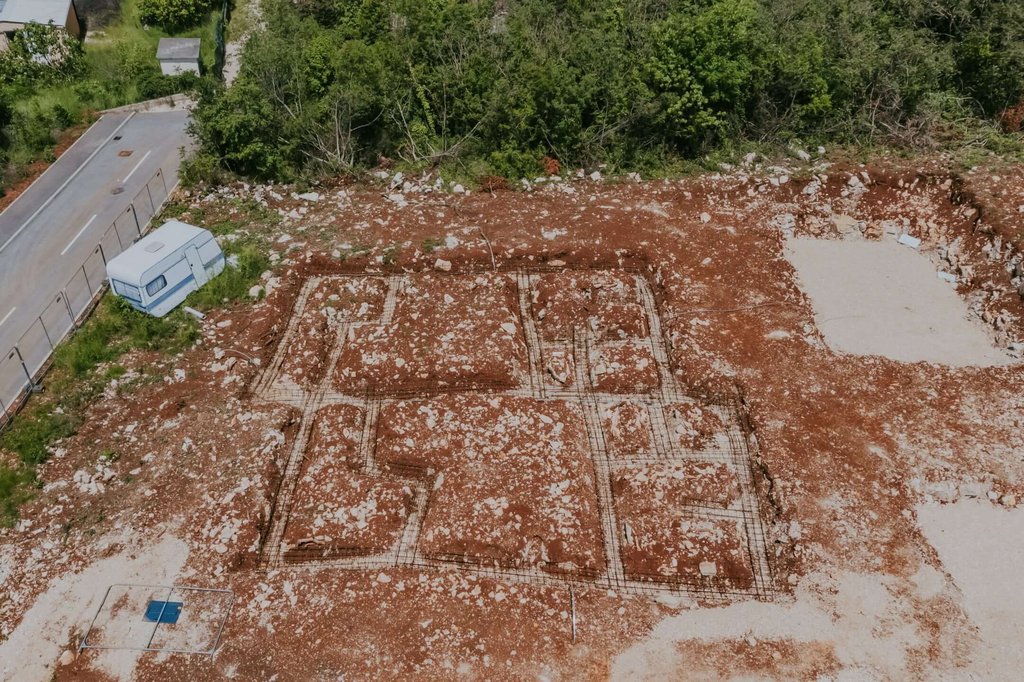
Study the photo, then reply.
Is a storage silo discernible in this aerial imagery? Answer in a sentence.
No, no storage silo is visible in the view.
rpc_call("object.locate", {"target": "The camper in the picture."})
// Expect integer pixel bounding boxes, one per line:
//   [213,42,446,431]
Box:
[104,223,224,317]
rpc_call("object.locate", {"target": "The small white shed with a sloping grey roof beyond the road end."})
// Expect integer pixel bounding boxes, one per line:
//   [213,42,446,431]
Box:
[155,35,210,83]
